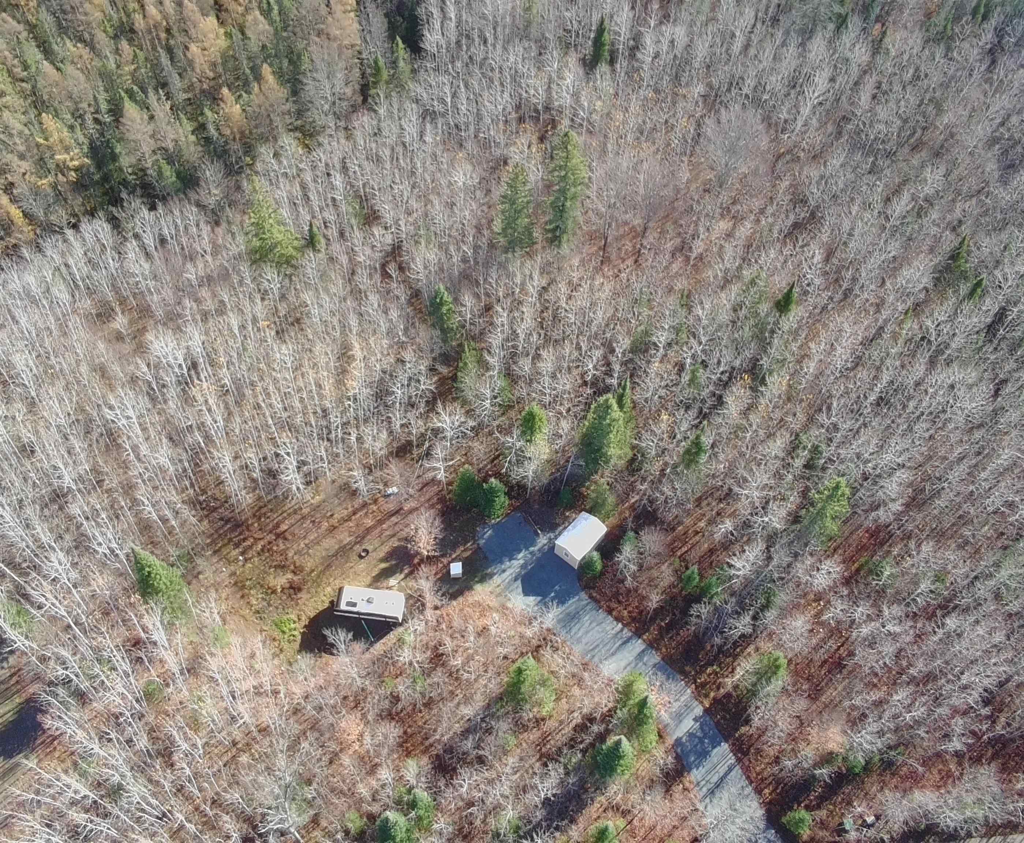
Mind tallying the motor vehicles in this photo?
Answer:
1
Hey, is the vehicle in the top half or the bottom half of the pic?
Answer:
bottom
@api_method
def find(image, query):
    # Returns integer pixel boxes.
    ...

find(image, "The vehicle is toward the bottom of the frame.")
[334,585,406,628]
